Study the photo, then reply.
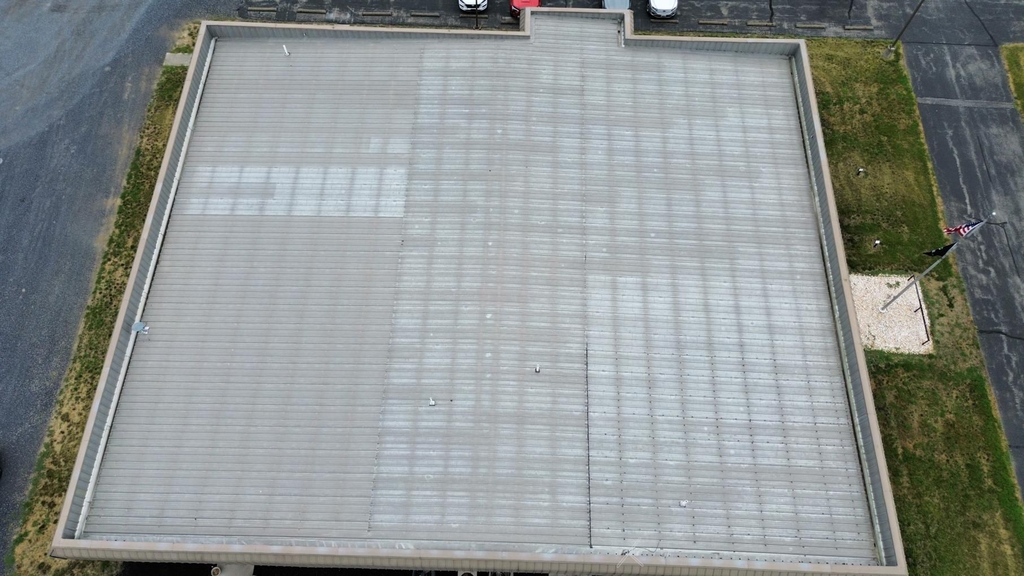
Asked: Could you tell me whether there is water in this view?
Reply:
No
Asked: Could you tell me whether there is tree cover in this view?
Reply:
No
